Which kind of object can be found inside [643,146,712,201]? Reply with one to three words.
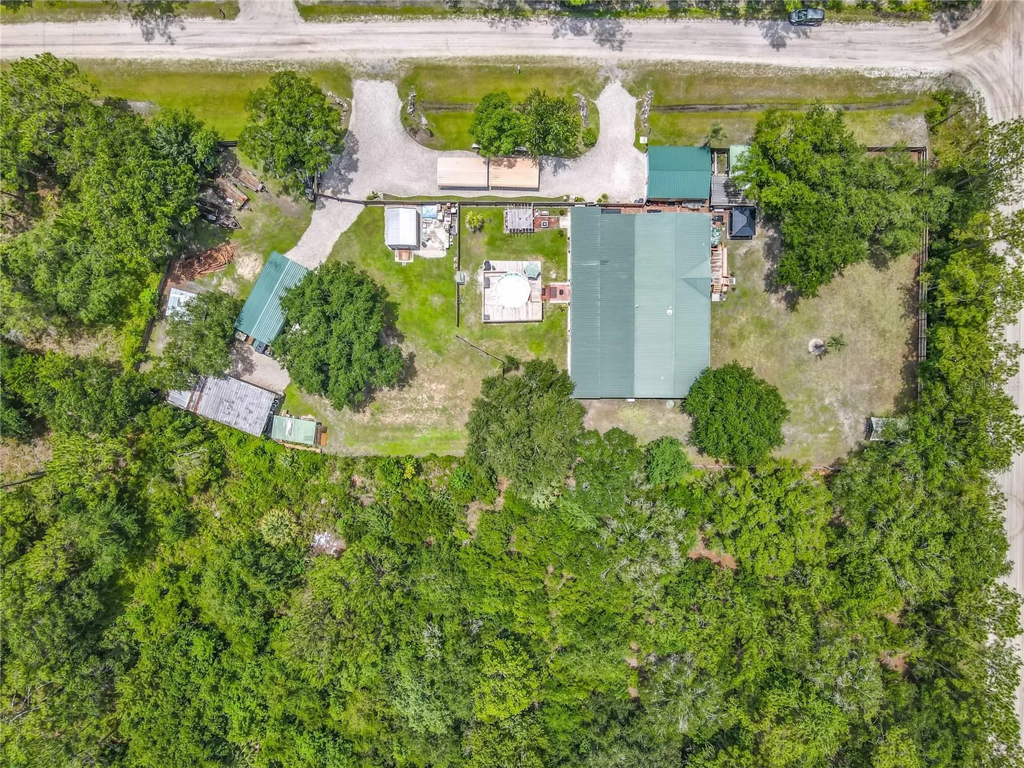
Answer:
building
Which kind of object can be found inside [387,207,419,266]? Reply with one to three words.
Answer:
shed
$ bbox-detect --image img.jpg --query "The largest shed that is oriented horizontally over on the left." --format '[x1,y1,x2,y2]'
[168,374,278,437]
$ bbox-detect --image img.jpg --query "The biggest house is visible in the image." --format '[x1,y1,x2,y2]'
[569,206,714,399]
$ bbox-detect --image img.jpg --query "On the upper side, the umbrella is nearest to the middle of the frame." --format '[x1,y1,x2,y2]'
[525,264,540,277]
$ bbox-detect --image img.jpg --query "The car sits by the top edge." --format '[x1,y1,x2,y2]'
[791,6,826,25]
